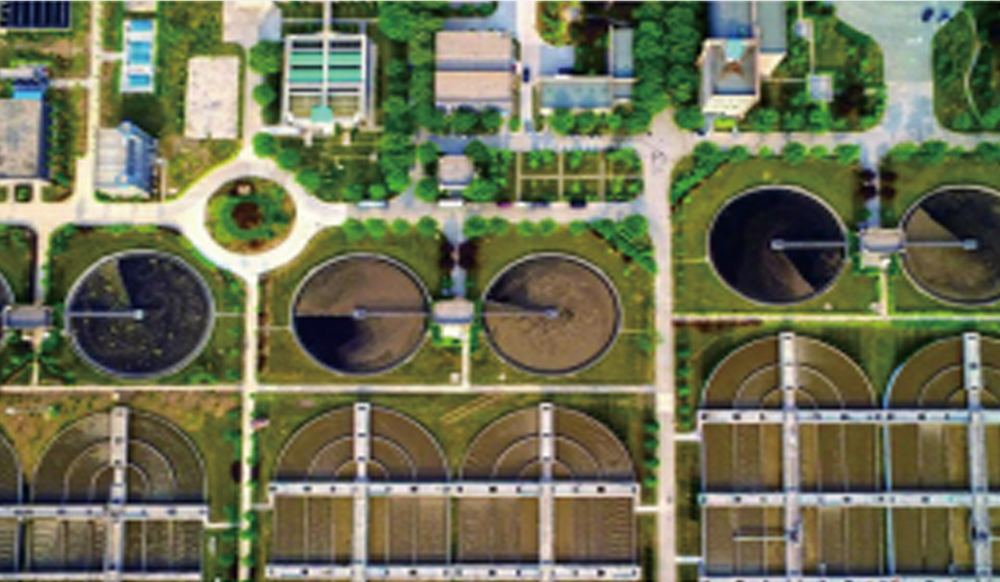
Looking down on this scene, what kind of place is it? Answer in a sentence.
It's an industrial area.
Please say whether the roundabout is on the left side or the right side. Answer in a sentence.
It is on the left.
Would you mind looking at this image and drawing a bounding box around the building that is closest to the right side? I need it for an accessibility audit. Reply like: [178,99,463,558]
[856,229,903,252]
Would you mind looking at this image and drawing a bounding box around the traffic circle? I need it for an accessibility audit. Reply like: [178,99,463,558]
[206,178,297,252]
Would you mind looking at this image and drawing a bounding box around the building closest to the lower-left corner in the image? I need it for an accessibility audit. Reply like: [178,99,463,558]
[3,306,58,328]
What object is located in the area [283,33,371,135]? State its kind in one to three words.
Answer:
building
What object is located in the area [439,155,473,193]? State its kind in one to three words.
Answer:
house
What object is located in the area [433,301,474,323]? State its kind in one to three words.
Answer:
building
